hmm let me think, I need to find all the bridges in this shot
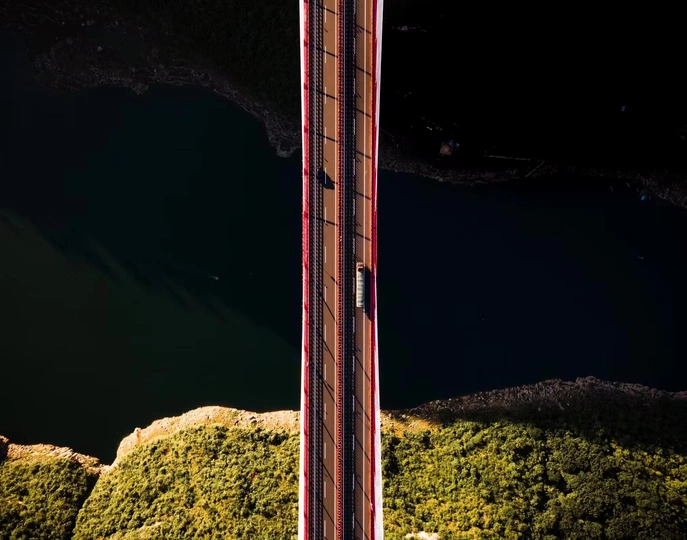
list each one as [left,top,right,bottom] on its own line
[299,0,384,540]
